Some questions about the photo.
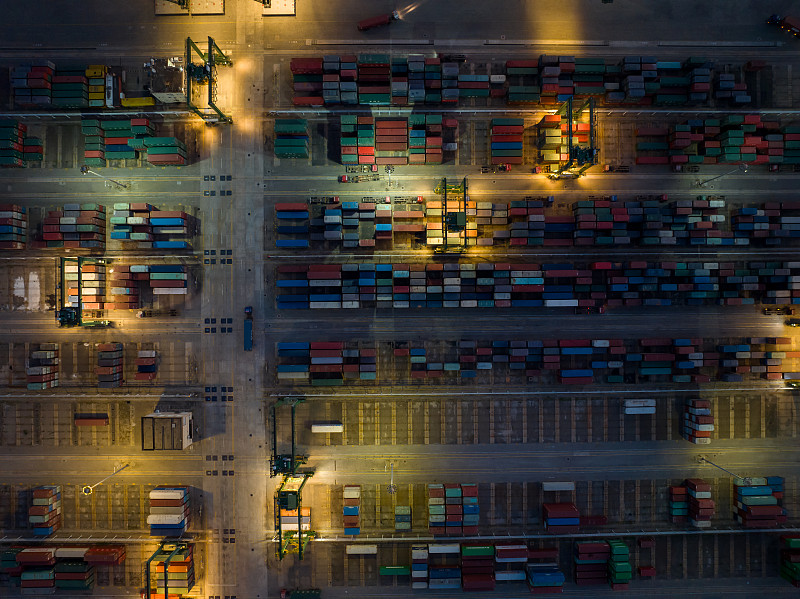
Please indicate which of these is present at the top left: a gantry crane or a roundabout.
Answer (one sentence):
There is a gantry crane at the top left.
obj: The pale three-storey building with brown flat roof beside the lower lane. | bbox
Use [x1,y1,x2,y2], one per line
[141,412,195,450]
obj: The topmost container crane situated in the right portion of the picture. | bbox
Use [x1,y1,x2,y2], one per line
[552,94,598,177]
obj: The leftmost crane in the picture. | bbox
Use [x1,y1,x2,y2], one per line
[53,255,112,328]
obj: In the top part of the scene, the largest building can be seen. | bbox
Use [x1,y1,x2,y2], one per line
[150,59,188,107]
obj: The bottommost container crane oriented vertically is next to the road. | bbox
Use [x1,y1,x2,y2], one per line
[273,472,313,562]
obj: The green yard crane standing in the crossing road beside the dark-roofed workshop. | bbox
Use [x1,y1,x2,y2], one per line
[184,39,232,124]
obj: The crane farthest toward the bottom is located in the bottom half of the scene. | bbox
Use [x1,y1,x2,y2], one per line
[140,543,191,599]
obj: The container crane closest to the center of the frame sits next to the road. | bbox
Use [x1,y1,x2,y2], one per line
[436,177,472,252]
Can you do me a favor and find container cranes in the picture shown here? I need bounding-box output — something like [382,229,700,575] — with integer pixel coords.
[267,396,308,476]
[184,39,232,124]
[53,255,112,328]
[436,177,472,252]
[140,543,191,599]
[273,472,313,562]
[552,94,598,177]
